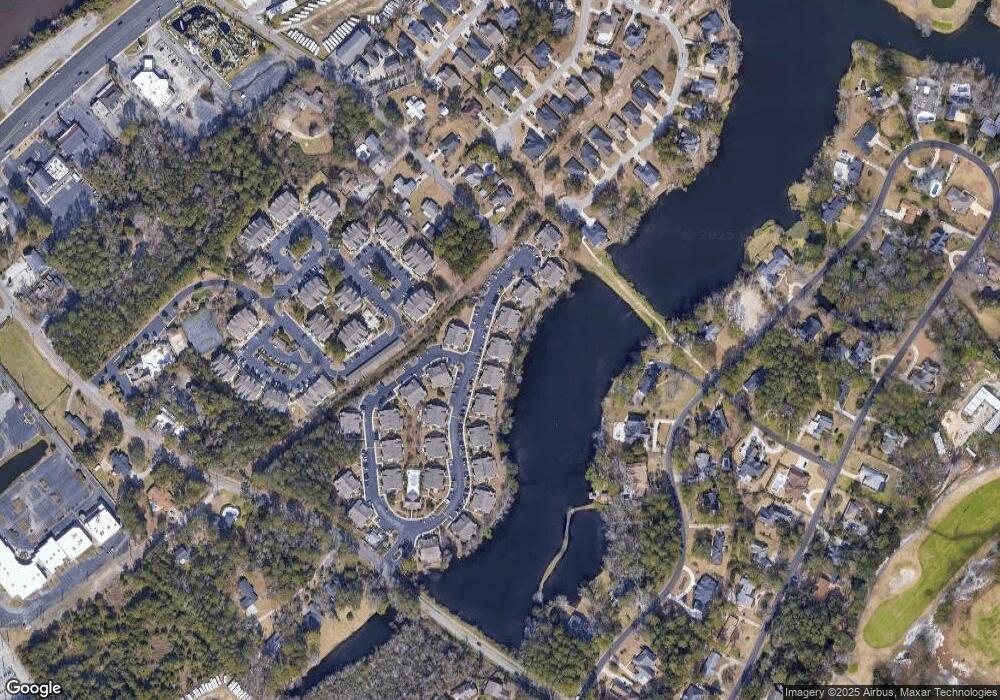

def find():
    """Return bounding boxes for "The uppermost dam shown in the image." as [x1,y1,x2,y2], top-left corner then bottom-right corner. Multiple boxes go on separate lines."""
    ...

[593,258,676,348]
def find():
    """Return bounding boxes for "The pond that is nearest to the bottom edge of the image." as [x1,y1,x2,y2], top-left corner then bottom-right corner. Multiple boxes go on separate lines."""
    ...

[286,608,396,699]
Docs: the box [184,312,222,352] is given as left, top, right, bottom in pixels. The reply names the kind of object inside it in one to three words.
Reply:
tennis court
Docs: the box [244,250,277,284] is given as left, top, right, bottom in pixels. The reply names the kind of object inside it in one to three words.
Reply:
building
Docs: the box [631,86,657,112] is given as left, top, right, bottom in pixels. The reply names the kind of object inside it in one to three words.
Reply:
house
